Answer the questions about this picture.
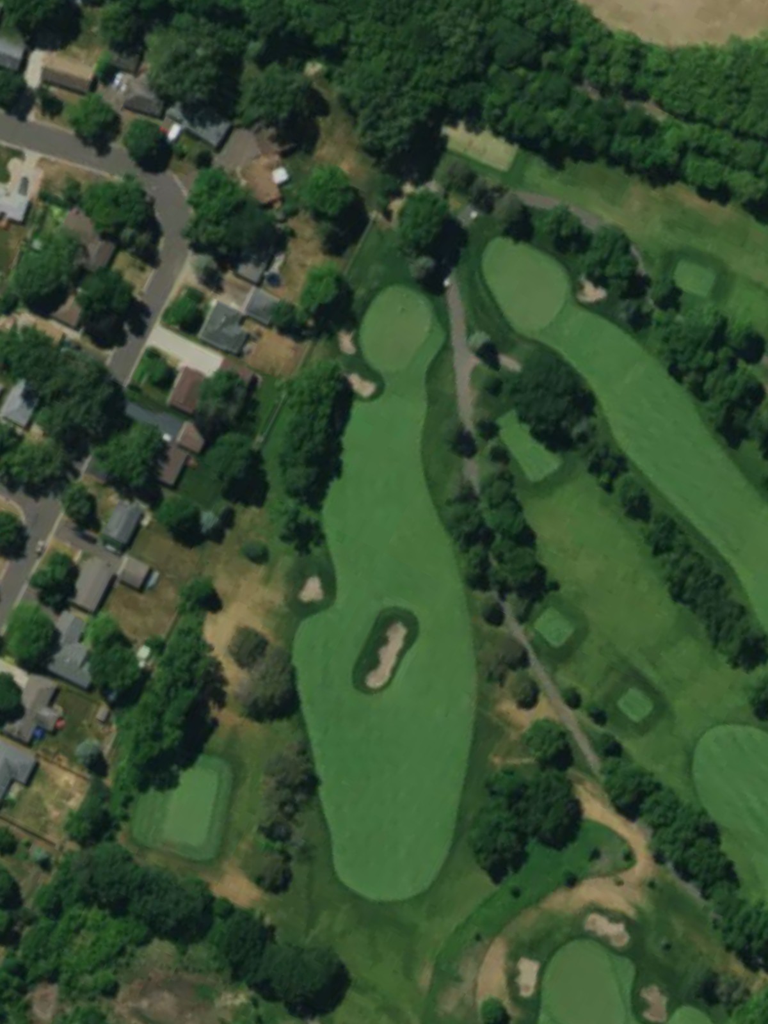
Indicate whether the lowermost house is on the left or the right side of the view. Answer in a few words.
left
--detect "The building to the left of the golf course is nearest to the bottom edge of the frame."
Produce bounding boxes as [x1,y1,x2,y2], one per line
[0,736,40,813]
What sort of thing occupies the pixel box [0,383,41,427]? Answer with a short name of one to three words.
house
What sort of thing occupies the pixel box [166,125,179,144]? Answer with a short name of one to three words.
vehicle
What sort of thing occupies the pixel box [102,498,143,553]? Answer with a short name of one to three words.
building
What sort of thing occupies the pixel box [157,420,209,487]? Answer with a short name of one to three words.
house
